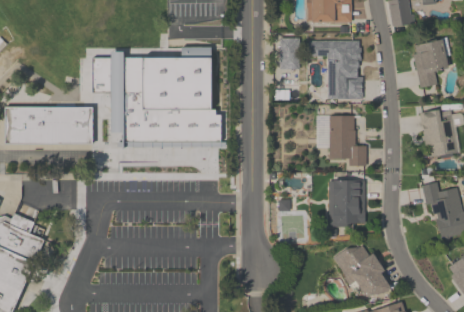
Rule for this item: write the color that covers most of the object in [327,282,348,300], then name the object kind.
green swimming pool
